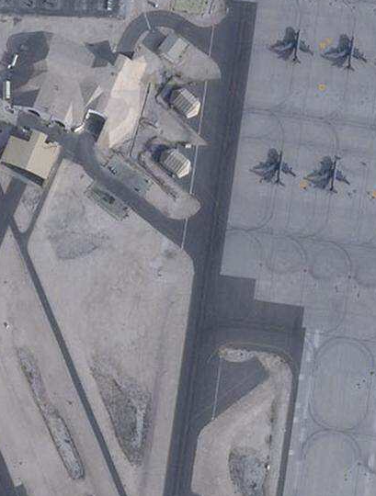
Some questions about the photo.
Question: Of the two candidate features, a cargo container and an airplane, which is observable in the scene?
airplane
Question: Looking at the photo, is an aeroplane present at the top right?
Yes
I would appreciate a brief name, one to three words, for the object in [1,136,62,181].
hangar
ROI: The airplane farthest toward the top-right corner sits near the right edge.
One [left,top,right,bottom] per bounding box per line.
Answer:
[333,36,368,68]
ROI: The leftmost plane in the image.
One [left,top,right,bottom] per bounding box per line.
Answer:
[261,152,296,183]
